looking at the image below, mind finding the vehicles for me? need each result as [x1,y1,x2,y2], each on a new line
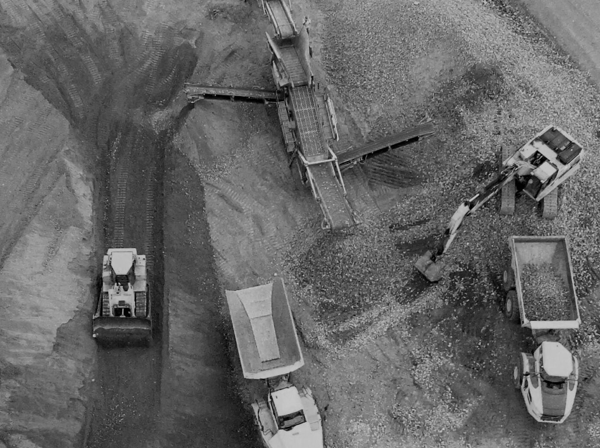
[86,247,150,345]
[415,122,588,280]
[226,276,321,448]
[504,232,588,423]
